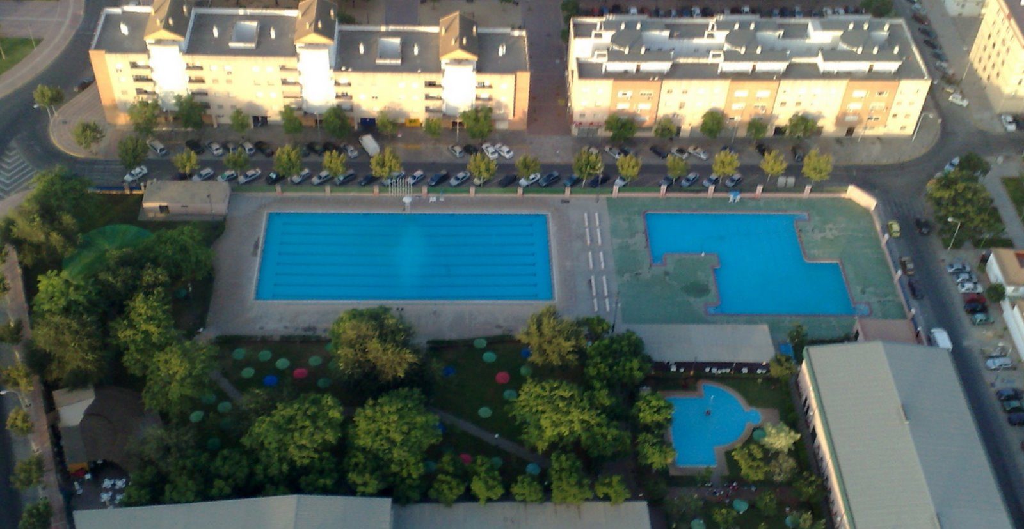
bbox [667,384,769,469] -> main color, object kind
blue swimming pool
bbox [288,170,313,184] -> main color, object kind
gray car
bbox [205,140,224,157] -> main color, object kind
gray car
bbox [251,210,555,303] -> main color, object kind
blue swimming pool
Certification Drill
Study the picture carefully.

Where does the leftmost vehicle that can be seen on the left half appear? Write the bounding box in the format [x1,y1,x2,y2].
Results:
[73,78,95,92]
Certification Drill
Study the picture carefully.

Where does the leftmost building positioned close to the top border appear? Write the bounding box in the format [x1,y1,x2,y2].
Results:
[91,0,530,132]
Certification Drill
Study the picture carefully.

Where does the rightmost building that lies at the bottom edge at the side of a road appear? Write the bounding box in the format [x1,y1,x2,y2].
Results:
[796,336,1017,529]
